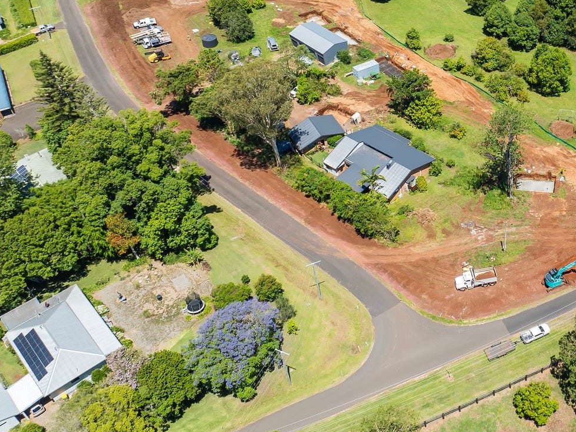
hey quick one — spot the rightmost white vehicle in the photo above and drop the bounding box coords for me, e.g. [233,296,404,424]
[521,321,553,343]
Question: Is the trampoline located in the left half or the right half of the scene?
left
